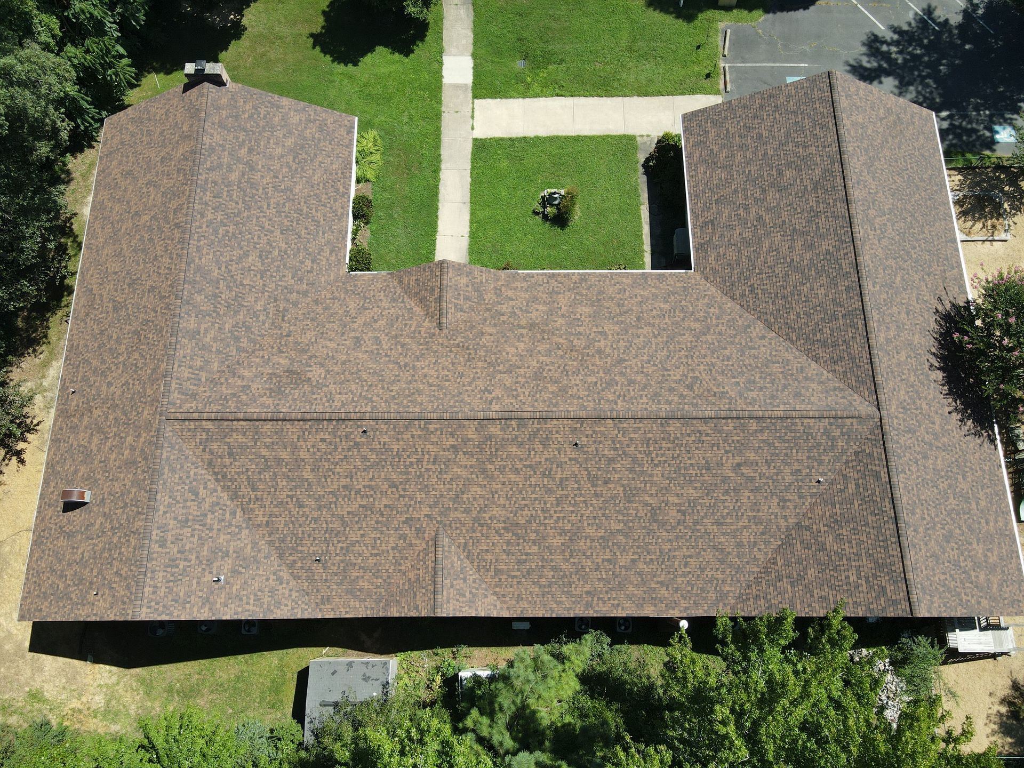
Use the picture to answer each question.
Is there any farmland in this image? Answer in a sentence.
No, no farmland is visible.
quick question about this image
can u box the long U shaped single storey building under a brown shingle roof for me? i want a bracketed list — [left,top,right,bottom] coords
[15,58,1024,620]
